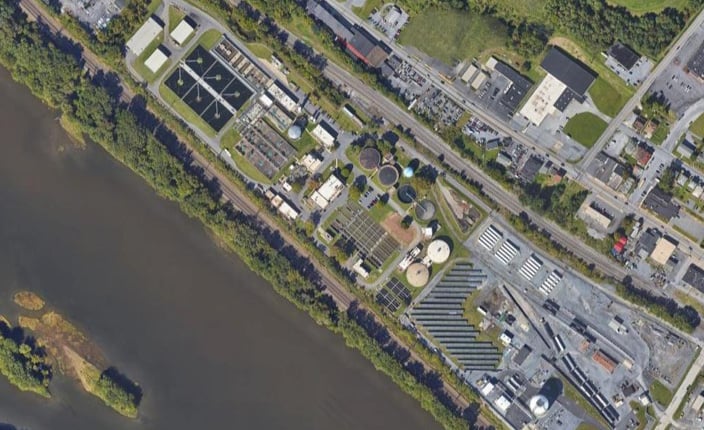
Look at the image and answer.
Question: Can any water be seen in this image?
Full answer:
Yes, some water is visible.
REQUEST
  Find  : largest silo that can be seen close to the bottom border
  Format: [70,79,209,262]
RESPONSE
[529,394,549,414]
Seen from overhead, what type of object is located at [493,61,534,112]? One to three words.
building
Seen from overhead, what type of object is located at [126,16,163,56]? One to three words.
shed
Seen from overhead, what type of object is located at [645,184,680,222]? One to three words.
building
